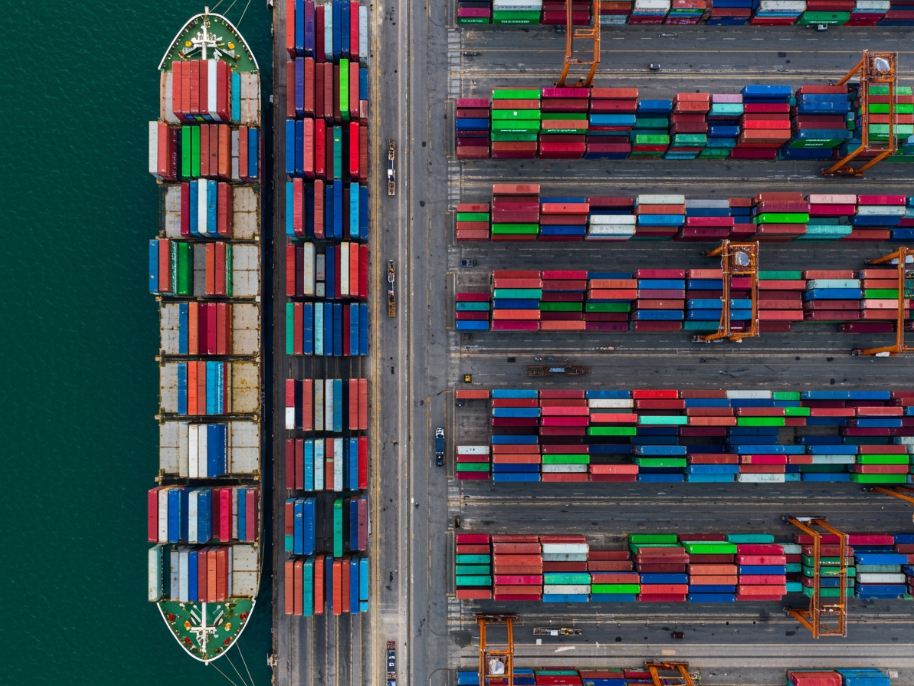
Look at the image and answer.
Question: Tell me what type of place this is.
port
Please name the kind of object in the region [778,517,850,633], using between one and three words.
container crane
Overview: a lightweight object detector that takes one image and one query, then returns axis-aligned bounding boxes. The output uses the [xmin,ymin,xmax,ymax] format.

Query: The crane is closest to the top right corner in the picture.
[823,50,901,173]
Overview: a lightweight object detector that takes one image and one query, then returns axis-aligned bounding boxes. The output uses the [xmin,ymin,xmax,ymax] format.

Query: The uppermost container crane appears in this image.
[553,0,603,86]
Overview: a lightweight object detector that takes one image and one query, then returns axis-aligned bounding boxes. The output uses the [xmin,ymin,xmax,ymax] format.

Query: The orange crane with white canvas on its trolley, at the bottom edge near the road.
[473,614,516,686]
